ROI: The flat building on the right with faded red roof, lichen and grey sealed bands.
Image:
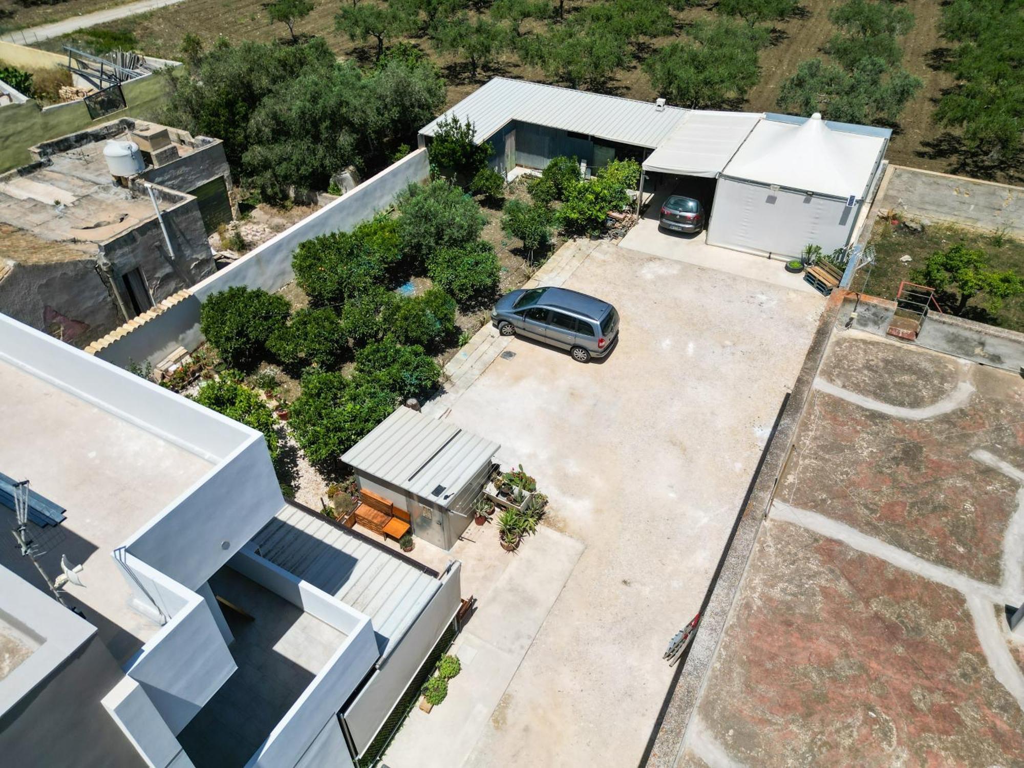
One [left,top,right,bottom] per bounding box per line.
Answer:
[644,287,1024,768]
